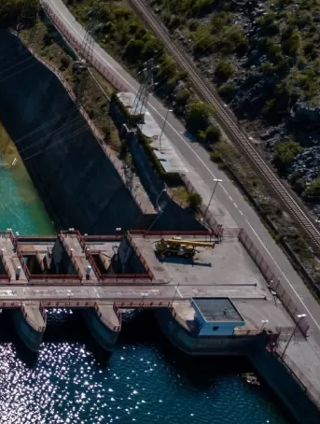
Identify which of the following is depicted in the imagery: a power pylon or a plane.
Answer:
power pylon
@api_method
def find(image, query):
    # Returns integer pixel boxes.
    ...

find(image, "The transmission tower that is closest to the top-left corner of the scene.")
[82,8,106,54]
